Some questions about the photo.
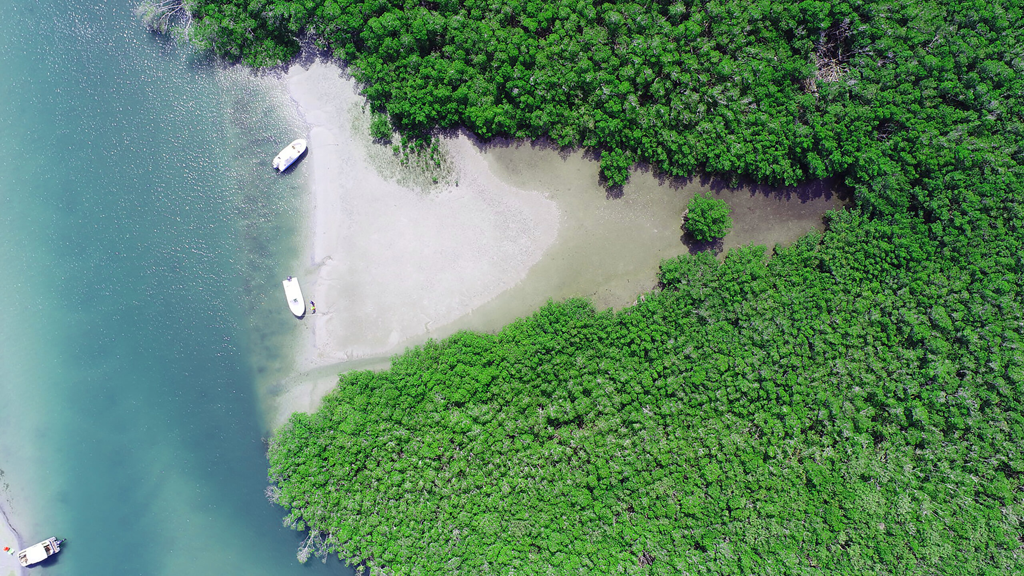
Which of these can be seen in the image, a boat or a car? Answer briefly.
boat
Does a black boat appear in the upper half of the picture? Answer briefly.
No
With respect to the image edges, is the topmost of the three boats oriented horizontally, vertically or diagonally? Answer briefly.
diagonally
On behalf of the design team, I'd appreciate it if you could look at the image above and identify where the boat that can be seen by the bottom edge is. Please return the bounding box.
[19,535,65,565]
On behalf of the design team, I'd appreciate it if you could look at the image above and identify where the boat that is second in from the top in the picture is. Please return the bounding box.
[284,277,305,316]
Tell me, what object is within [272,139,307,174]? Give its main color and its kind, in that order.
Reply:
white boat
